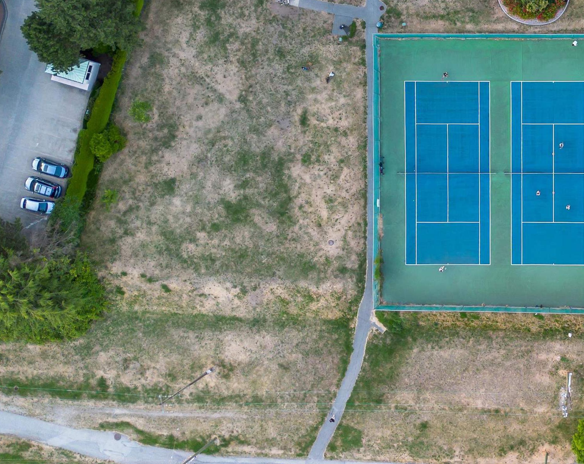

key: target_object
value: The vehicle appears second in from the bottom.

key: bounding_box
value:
[25,176,66,198]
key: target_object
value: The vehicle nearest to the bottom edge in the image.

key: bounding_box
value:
[19,196,57,216]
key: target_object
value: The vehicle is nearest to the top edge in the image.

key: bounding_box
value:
[32,157,72,178]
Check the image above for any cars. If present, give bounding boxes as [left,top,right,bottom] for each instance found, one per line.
[19,196,57,216]
[32,157,72,178]
[25,176,66,198]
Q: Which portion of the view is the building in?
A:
top left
